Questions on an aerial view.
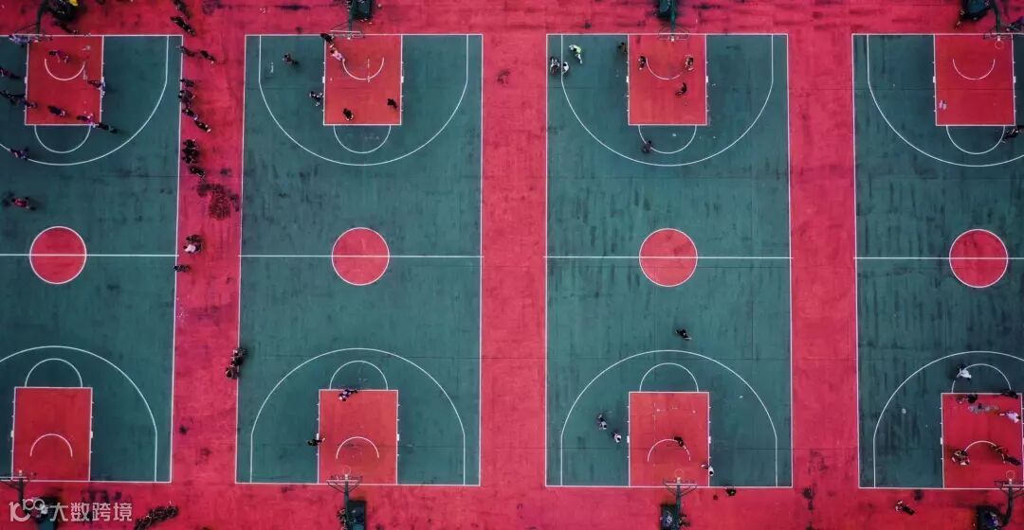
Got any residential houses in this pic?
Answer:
No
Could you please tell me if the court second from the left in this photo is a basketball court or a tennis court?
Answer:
basketball court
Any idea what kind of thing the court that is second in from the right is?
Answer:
basketball court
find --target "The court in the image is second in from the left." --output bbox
[235,34,483,486]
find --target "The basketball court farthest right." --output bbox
[851,33,1024,491]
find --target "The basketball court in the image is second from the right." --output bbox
[545,33,793,489]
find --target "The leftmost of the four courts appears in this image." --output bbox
[0,34,183,483]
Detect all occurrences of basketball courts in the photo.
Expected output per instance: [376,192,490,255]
[0,34,183,483]
[851,33,1024,491]
[235,34,483,486]
[545,33,793,489]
